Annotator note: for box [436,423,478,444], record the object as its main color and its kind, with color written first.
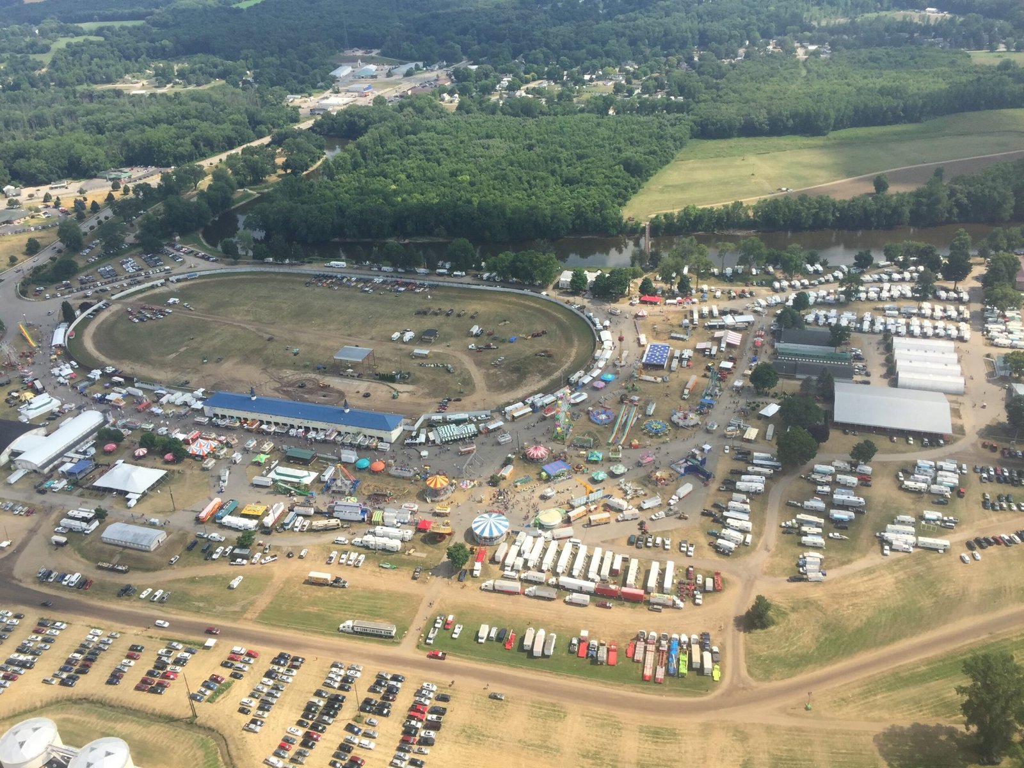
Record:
white tent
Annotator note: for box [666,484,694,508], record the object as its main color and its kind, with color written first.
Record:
white truck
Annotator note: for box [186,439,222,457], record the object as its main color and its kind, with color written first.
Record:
white tent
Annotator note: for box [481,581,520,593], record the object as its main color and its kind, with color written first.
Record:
white vehicle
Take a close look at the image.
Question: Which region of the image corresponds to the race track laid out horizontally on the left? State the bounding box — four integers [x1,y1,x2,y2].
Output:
[80,303,577,416]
